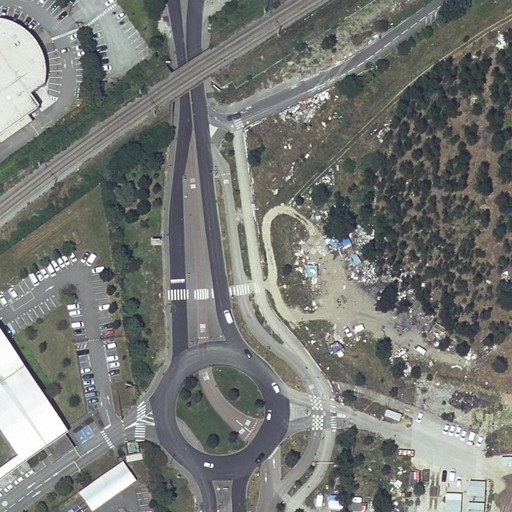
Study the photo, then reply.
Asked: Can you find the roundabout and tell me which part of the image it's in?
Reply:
bottom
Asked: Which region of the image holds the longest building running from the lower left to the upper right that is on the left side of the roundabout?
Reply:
bottom left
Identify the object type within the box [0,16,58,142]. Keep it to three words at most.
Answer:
building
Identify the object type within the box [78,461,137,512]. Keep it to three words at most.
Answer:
building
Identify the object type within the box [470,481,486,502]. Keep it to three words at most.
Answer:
shed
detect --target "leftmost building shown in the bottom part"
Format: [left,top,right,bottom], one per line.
[0,326,76,480]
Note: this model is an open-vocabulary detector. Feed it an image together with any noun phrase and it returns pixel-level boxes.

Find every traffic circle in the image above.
[148,333,312,512]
